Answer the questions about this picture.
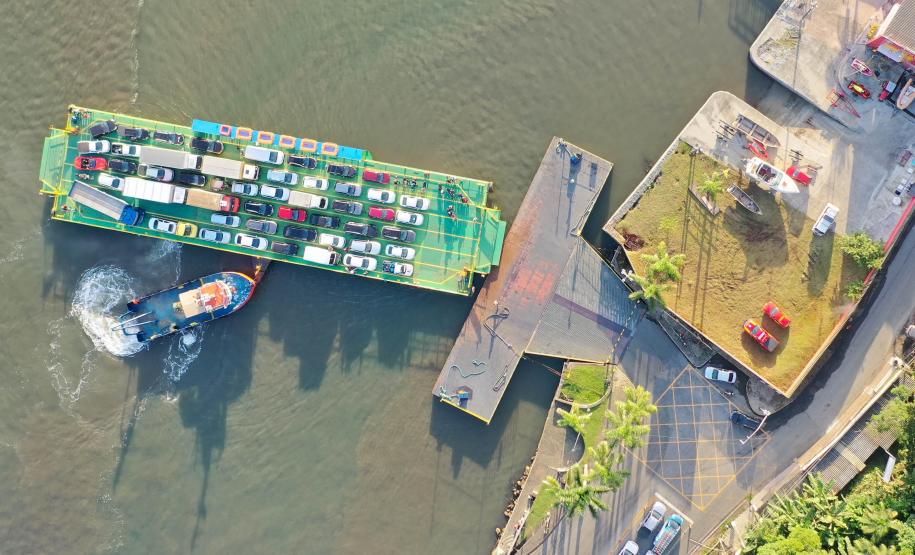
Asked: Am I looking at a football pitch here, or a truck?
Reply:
truck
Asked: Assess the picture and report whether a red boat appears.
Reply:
Yes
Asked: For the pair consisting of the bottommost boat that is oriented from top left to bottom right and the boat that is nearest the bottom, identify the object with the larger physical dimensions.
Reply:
the boat that is nearest the bottom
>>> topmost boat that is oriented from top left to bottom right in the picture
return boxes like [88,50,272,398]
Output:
[848,58,869,75]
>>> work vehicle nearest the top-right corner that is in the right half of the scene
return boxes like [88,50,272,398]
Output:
[873,73,899,97]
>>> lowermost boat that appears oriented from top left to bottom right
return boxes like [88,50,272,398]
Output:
[726,184,762,214]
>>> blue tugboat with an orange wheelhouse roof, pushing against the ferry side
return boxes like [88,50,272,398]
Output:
[112,272,261,341]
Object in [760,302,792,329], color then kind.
red truck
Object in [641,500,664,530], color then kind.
white car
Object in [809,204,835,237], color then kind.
white truck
